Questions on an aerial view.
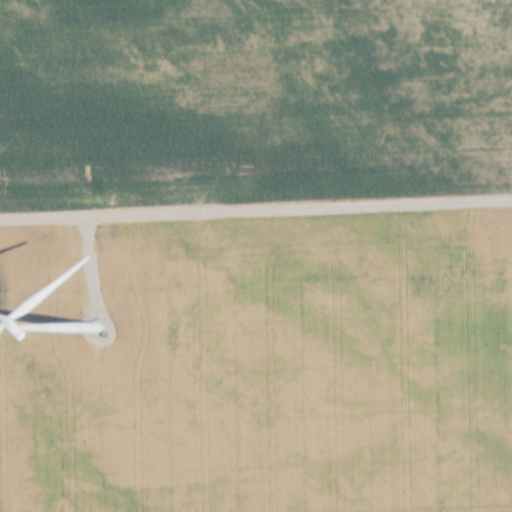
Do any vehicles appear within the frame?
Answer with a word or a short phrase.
No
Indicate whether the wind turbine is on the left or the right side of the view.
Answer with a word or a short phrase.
left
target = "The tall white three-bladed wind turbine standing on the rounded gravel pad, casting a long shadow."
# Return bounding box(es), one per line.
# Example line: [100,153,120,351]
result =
[0,258,104,340]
